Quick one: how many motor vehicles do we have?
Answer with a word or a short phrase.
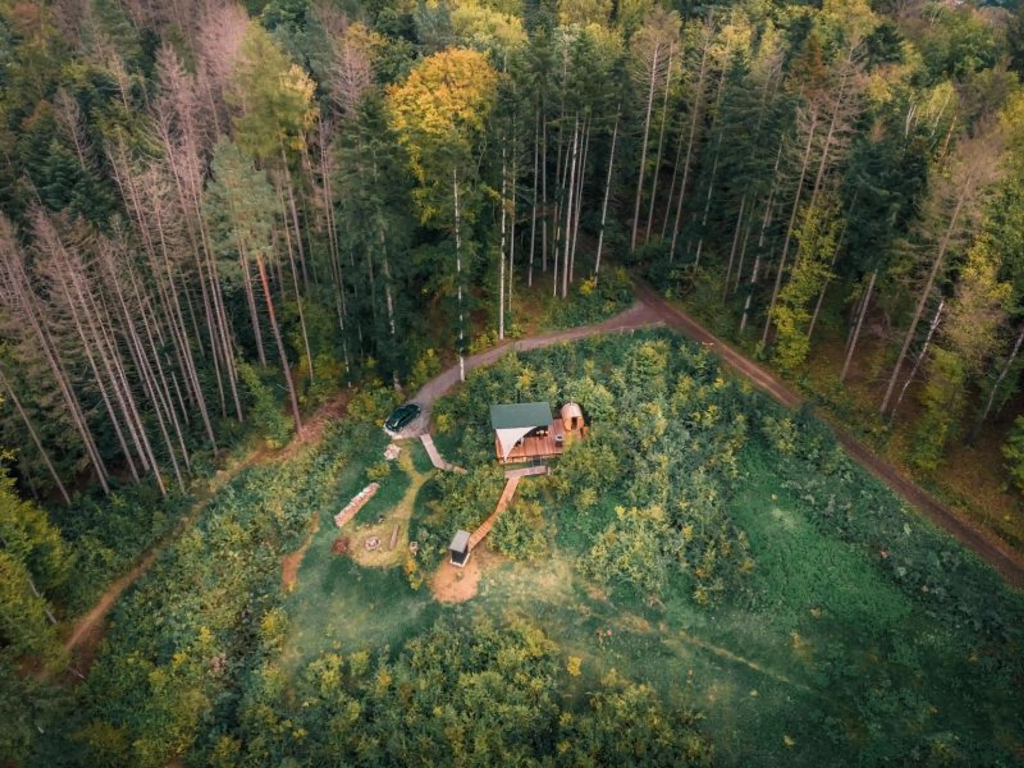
1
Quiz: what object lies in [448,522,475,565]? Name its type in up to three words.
shed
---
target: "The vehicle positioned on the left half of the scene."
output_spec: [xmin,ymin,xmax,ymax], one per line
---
[382,401,426,432]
